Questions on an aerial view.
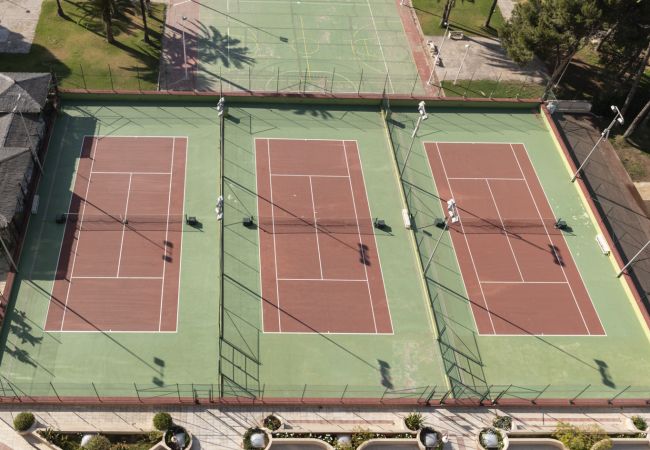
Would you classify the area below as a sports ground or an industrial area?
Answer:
sports ground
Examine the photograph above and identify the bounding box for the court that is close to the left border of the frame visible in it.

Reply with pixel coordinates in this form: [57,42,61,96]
[0,100,220,396]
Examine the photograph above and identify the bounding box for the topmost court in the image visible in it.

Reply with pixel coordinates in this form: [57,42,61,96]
[159,0,446,96]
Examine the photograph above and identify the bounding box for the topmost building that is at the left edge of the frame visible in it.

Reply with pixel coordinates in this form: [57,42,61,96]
[0,72,54,135]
